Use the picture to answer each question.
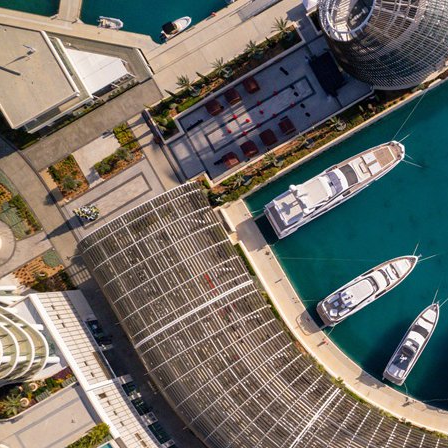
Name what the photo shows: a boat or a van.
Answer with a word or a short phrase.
boat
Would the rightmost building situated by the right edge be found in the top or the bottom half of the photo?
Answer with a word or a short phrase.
top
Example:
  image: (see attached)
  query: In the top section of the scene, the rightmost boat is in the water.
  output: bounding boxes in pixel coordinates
[248,87,430,246]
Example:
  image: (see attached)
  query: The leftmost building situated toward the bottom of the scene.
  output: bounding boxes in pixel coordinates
[0,305,55,390]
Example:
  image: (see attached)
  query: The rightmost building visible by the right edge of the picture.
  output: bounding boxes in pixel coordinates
[316,0,448,89]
